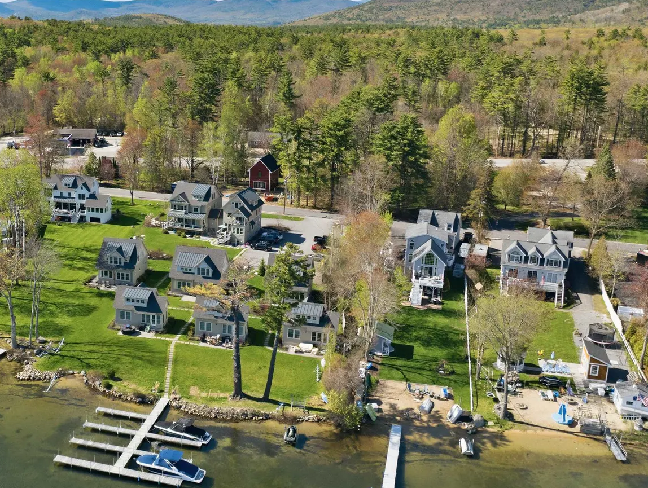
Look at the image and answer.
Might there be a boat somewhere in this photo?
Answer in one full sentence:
Yes, there's a boat here.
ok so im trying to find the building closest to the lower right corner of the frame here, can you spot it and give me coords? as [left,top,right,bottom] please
[610,368,648,418]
